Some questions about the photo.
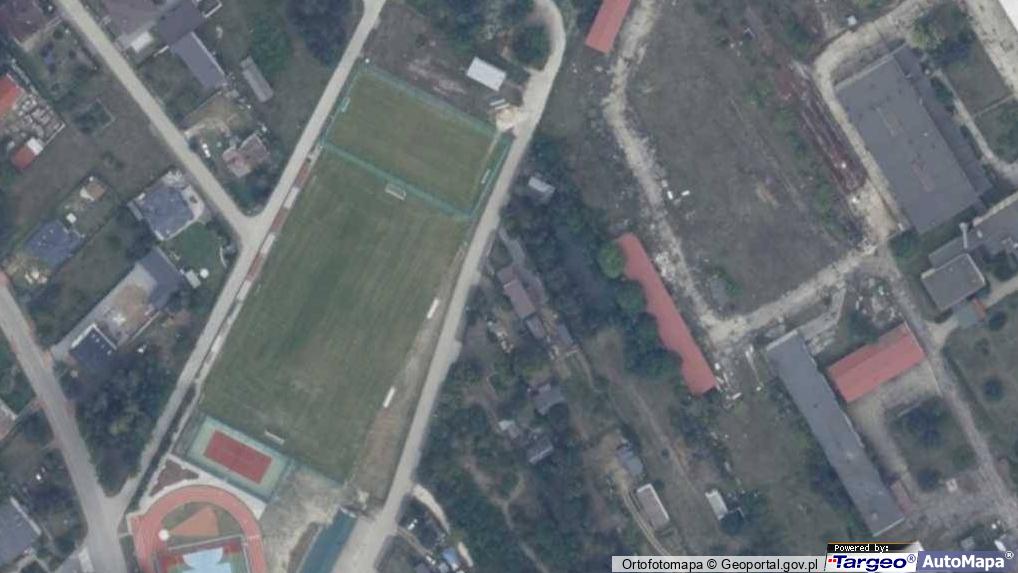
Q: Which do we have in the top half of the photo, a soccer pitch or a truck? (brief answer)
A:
soccer pitch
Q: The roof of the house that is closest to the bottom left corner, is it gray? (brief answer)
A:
Yes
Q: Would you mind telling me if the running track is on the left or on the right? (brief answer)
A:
left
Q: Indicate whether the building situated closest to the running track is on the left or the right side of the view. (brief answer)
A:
left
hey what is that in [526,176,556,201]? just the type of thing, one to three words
house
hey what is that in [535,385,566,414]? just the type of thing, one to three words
house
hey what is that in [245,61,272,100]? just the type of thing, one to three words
building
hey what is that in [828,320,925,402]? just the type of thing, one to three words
barn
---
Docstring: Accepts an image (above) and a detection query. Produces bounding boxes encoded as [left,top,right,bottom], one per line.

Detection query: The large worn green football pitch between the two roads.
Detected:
[202,150,471,486]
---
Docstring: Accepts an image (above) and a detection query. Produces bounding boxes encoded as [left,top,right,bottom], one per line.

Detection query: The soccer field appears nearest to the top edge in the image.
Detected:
[326,68,503,214]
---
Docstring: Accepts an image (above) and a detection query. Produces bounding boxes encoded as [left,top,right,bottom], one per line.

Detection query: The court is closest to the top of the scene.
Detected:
[188,418,287,500]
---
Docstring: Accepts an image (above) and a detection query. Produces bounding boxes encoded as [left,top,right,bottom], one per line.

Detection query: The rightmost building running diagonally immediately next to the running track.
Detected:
[299,505,358,573]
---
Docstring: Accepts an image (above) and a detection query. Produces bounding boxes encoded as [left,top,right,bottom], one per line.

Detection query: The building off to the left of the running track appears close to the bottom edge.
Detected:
[0,497,44,566]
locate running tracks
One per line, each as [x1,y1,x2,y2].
[130,488,266,573]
